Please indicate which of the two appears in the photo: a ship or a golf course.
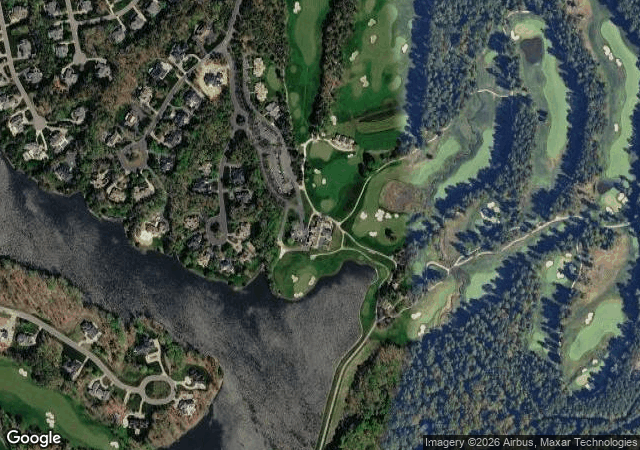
golf course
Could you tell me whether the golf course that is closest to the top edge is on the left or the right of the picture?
right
